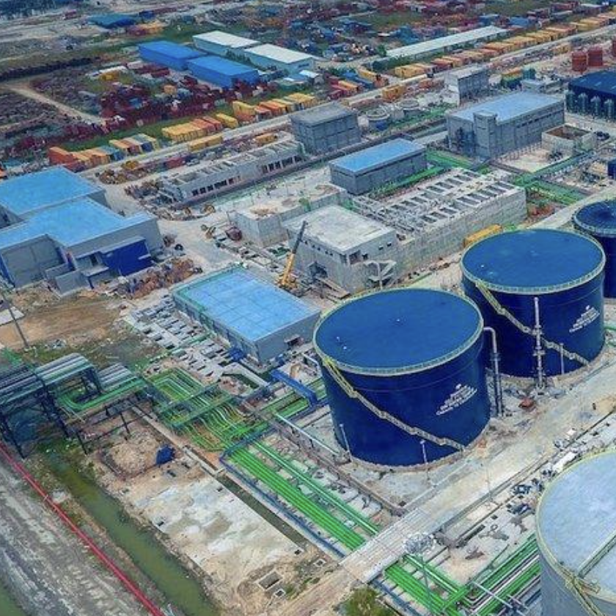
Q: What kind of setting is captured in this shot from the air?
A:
industrial area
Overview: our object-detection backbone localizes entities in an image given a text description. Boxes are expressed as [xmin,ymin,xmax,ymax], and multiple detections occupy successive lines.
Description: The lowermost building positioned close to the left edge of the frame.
[0,202,165,290]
